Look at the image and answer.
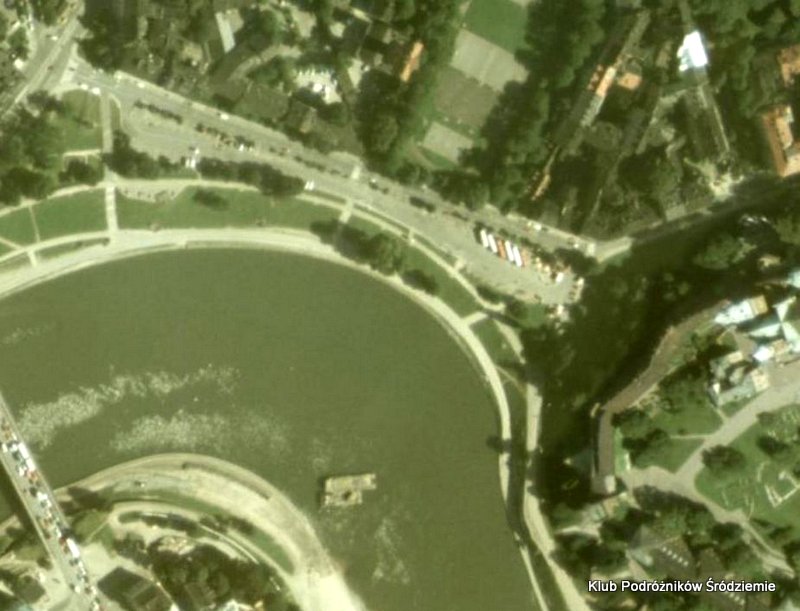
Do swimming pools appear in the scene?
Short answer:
No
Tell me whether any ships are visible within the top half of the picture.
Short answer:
No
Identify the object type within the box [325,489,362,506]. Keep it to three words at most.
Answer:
ship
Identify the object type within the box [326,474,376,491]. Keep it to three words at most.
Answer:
ship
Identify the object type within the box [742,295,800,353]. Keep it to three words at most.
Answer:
building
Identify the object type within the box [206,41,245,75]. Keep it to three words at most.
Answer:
house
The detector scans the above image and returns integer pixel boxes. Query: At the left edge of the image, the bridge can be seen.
[0,389,109,611]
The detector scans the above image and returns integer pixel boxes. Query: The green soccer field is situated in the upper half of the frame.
[463,0,530,51]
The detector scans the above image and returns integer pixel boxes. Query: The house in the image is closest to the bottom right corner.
[703,553,764,611]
